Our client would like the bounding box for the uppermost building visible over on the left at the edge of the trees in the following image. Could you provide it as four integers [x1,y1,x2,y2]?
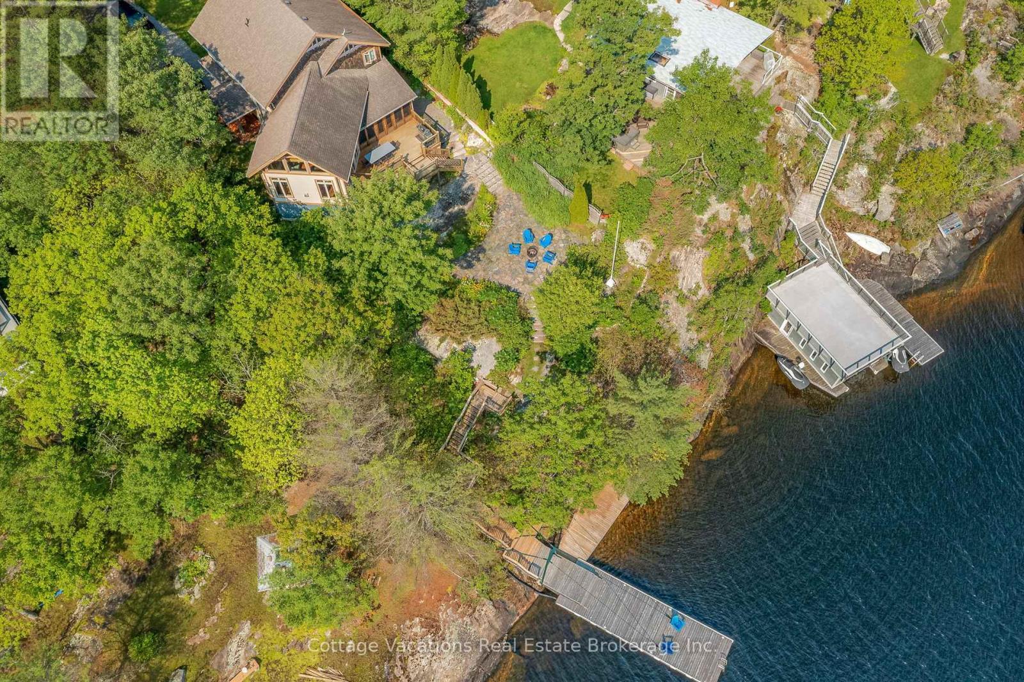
[175,0,418,219]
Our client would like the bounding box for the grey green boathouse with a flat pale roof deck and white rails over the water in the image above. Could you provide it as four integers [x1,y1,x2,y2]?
[762,256,912,398]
